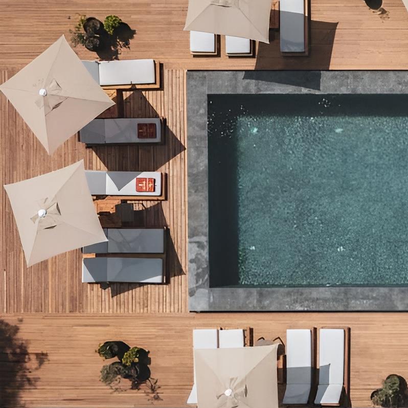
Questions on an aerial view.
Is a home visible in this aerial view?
No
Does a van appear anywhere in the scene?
No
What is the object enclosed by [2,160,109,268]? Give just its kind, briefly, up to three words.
umbrella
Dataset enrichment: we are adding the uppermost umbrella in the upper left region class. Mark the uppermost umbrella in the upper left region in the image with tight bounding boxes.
[0,33,117,155]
